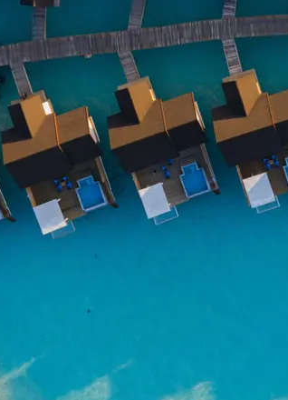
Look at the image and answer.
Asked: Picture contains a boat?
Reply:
No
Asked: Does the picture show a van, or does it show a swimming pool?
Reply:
swimming pool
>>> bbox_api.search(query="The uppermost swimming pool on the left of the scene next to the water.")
[78,181,108,215]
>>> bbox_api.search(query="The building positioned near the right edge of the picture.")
[213,70,288,218]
